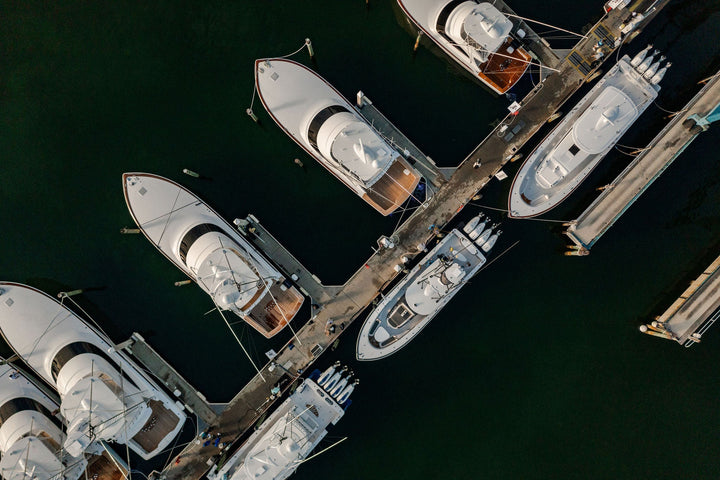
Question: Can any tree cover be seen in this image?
No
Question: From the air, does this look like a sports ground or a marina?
marina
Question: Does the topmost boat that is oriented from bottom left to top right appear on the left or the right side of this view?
right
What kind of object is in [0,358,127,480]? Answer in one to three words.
boat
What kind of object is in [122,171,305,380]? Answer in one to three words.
boat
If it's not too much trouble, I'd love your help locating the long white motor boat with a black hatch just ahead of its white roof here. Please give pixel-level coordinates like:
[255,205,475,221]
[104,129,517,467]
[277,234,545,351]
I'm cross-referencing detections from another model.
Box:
[508,43,672,219]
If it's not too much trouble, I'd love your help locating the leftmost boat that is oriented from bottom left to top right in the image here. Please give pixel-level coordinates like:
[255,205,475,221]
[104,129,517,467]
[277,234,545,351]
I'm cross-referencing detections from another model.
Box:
[207,363,356,480]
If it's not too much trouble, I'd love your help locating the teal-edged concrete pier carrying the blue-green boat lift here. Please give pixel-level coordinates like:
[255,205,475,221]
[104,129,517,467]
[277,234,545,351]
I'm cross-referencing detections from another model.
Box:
[567,64,720,252]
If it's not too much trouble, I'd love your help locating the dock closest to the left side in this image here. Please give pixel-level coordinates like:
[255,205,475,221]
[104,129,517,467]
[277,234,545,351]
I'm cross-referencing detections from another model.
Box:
[124,330,229,440]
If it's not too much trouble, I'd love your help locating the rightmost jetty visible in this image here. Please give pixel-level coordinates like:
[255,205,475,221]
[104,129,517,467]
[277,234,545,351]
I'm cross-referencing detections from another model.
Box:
[655,249,720,346]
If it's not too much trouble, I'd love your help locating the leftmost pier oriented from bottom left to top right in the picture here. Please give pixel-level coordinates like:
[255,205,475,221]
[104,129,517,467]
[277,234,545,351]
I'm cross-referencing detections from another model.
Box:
[155,0,643,480]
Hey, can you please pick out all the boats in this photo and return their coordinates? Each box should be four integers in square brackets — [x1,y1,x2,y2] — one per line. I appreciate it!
[207,363,356,480]
[255,58,424,217]
[0,358,127,480]
[0,280,190,480]
[122,171,305,380]
[387,0,587,98]
[356,213,519,361]
[508,43,672,219]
